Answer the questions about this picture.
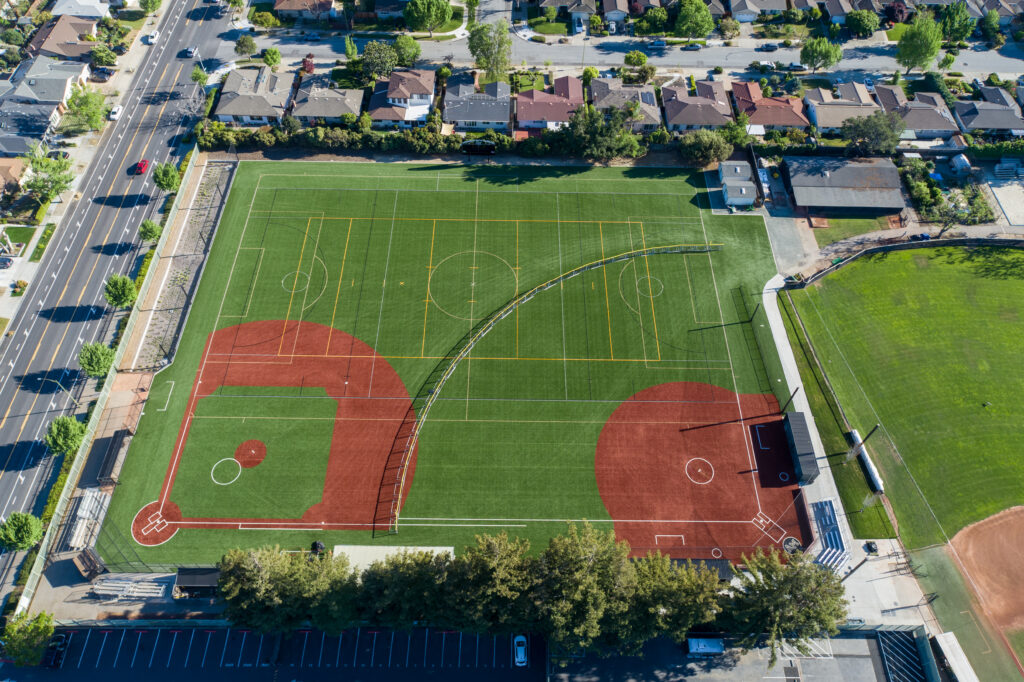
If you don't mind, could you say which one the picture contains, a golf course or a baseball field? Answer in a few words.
baseball field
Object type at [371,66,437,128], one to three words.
house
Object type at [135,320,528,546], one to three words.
baseball field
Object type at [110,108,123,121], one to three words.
vehicle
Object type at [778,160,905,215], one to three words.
barn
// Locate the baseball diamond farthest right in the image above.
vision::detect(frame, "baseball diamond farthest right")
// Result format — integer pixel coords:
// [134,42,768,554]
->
[786,242,1024,682]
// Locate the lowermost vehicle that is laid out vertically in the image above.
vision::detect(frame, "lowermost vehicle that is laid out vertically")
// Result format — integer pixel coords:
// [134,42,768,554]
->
[513,634,527,668]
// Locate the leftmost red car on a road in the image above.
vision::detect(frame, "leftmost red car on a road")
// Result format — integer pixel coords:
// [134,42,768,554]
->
[136,161,149,174]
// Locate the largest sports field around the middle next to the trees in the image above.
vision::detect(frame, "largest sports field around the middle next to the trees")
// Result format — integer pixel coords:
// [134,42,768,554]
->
[99,161,827,580]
